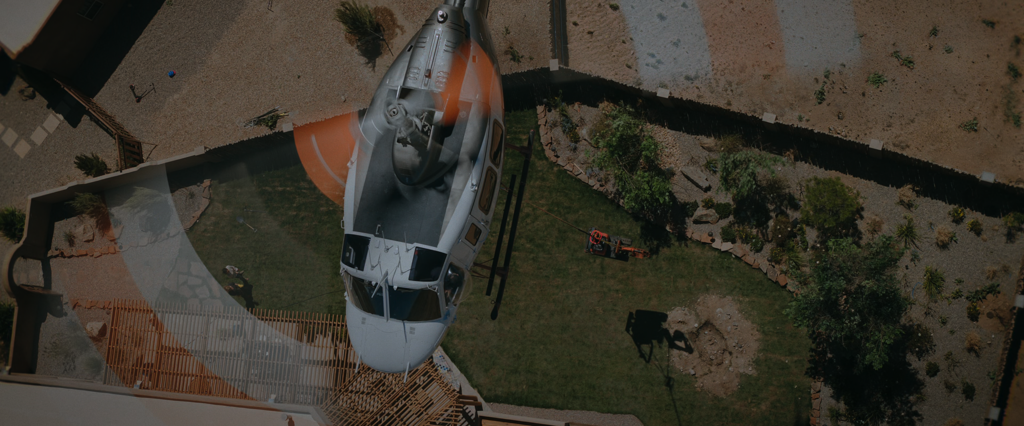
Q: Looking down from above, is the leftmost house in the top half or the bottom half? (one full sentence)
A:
You can find the leftmost house in the top half.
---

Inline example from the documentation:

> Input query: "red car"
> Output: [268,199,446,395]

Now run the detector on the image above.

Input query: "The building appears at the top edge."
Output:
[0,0,136,82]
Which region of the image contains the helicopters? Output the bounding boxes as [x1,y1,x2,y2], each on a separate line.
[0,0,755,375]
